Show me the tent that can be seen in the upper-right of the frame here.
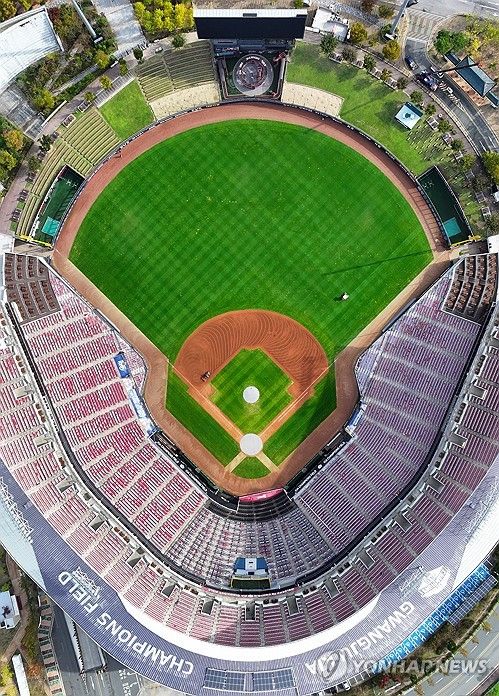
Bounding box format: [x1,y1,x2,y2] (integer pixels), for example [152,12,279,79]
[391,97,426,135]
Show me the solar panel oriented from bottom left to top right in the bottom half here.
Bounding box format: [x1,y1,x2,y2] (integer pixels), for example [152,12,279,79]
[450,578,498,625]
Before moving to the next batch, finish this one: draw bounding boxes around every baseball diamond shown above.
[46,103,455,503]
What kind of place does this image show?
sports ground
